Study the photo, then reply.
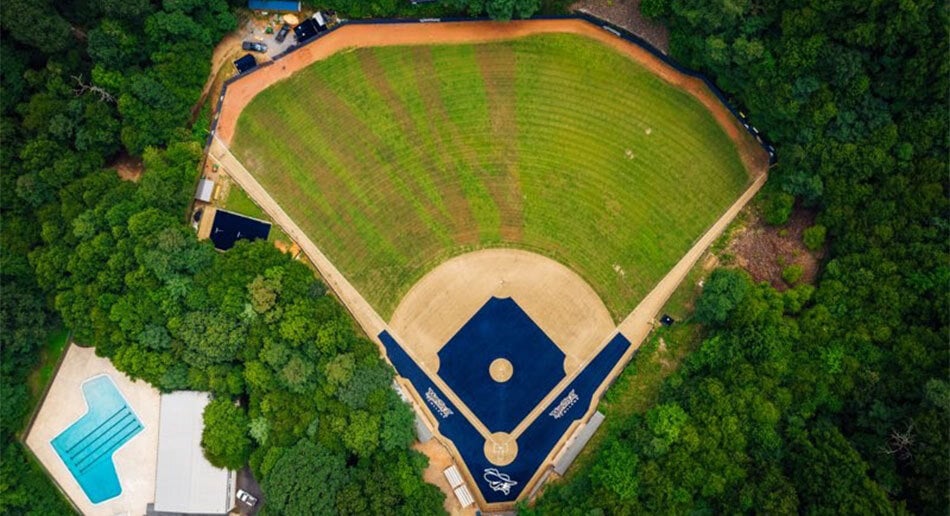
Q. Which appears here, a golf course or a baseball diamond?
baseball diamond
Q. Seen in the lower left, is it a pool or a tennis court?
pool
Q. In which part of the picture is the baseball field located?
center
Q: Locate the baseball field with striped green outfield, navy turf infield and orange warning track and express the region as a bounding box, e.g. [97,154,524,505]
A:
[209,19,770,510]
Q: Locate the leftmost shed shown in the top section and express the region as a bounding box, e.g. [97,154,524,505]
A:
[196,180,217,202]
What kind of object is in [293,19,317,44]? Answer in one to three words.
shed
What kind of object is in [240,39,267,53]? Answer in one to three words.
vehicle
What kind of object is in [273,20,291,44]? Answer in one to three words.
vehicle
